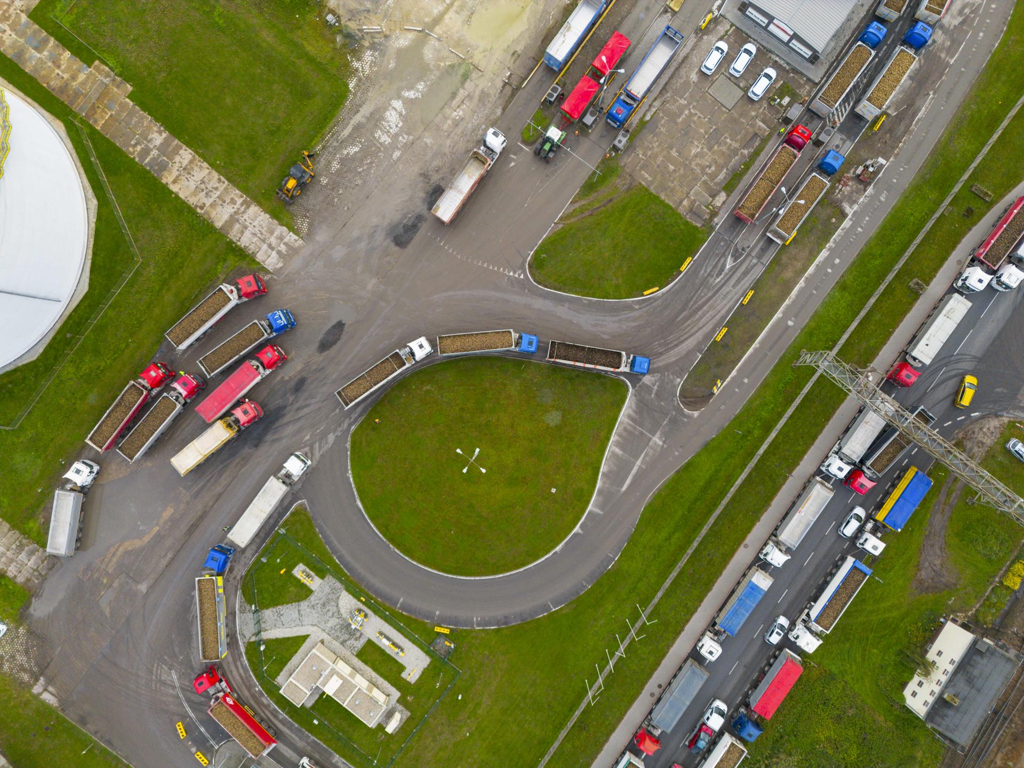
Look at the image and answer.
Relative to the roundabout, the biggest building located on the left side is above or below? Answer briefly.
below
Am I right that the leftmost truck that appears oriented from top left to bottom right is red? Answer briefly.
Yes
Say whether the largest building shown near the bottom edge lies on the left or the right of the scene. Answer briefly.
right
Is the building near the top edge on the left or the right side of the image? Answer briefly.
right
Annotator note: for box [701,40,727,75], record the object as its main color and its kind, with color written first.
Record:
white car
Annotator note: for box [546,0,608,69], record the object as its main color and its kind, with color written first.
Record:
white truck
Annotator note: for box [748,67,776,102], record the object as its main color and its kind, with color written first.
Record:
white car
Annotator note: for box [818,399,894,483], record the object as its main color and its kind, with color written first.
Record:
white truck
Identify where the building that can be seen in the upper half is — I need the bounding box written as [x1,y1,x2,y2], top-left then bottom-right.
[732,0,861,71]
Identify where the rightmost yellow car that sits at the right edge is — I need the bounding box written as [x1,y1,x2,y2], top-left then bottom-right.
[953,375,977,409]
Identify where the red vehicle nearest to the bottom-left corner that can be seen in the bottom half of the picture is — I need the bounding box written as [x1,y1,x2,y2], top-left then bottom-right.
[192,661,275,759]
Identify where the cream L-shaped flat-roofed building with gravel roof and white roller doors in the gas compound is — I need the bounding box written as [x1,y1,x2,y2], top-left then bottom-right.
[279,643,389,728]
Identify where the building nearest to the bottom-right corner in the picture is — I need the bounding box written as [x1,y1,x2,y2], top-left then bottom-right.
[904,621,1020,746]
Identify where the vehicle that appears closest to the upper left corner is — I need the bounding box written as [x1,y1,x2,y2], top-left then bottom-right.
[275,146,314,203]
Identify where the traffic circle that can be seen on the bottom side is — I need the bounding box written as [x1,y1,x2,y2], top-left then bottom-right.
[306,355,646,628]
